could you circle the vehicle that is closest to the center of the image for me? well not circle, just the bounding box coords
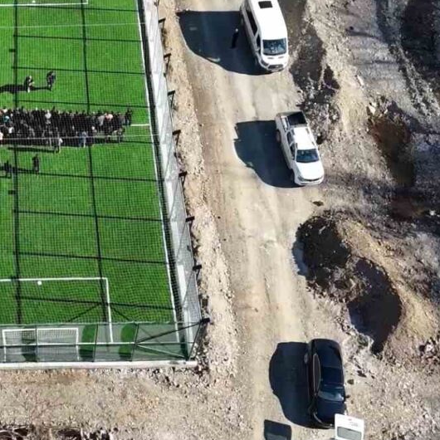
[275,112,330,188]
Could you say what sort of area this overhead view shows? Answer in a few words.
sports ground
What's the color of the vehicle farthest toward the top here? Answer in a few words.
white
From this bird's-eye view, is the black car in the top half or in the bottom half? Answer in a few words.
bottom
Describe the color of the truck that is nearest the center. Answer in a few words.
white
